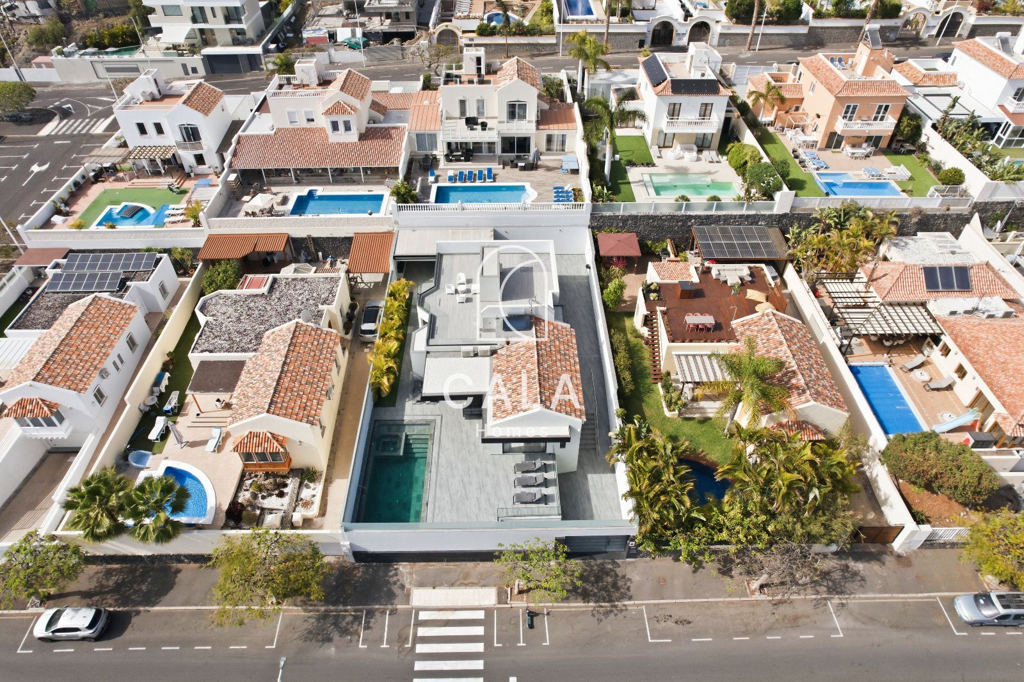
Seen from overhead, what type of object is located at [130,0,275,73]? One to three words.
house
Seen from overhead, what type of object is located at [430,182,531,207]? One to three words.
swimming pool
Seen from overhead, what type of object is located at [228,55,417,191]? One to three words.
house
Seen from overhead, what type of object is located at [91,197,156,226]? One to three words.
swimming pool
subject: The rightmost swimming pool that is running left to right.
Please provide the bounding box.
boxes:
[811,171,906,198]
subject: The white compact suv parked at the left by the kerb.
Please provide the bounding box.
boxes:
[23,603,110,646]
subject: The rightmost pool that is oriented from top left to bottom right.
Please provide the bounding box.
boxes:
[845,358,933,440]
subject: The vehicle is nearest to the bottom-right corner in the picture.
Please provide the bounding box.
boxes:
[962,592,1024,634]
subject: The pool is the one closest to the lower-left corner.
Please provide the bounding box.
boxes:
[140,459,217,525]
